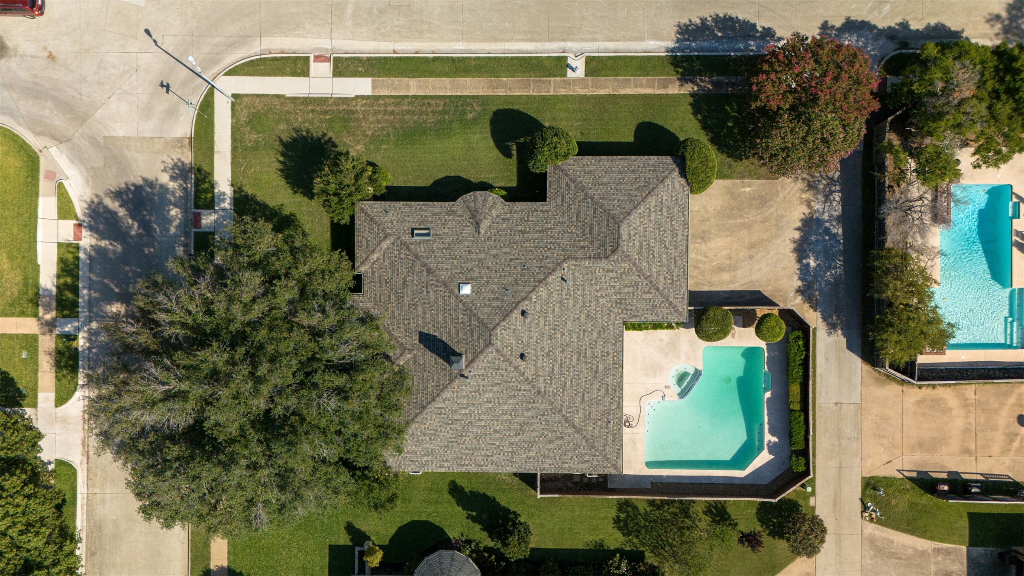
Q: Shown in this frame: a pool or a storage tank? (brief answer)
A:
pool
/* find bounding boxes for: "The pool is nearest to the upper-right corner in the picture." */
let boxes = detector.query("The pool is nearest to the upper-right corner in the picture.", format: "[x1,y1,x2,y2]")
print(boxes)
[935,184,1024,349]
